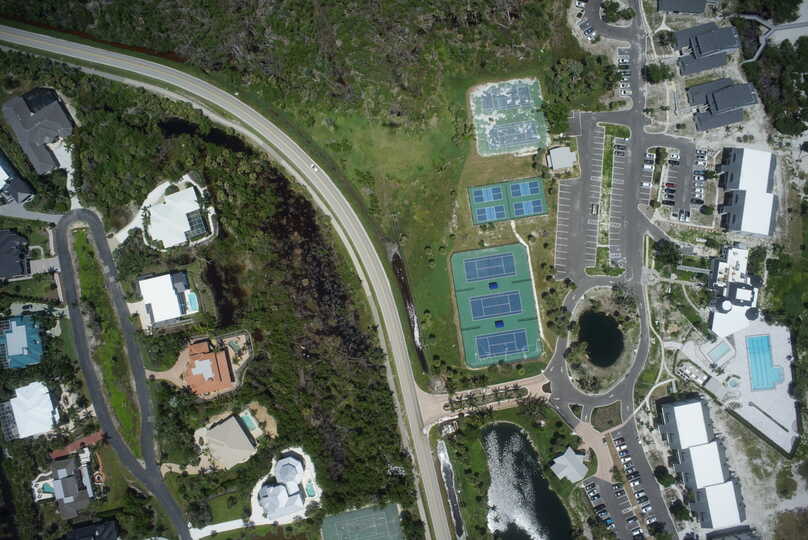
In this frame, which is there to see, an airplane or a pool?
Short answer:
pool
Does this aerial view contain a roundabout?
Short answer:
Yes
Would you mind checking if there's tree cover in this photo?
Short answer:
Yes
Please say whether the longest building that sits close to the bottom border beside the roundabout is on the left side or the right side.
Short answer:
right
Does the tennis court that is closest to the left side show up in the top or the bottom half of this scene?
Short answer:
bottom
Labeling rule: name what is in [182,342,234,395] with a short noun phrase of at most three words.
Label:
house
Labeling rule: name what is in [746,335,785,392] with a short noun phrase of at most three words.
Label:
swimming pool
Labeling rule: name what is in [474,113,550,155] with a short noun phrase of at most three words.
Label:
tennis court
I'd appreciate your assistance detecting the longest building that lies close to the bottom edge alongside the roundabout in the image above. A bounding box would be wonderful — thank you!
[652,395,746,529]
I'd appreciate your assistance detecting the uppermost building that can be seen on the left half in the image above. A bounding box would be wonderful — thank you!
[6,88,78,174]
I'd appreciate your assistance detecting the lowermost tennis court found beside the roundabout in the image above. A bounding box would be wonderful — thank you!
[462,318,544,368]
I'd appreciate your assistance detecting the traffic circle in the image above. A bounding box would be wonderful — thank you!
[542,282,649,432]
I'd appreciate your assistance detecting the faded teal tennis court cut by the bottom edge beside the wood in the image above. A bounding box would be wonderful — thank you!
[324,504,402,540]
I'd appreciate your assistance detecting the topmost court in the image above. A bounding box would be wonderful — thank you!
[470,78,545,121]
